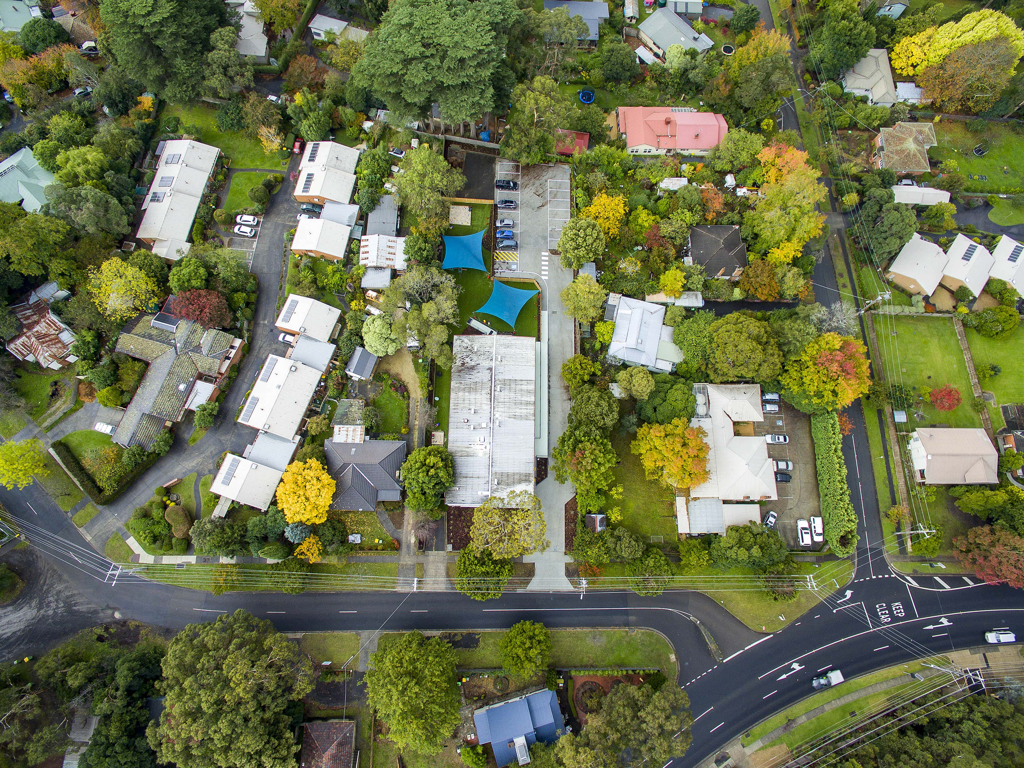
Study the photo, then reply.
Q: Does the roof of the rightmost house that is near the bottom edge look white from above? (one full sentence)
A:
No, the roof of the rightmost house that is near the bottom edge is actually blue.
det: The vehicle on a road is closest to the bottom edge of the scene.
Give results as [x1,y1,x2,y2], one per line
[815,671,843,688]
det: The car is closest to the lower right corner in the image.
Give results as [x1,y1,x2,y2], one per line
[987,631,1014,643]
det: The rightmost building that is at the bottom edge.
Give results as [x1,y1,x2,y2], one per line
[474,690,566,767]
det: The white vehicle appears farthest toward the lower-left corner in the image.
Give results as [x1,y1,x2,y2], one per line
[94,423,118,435]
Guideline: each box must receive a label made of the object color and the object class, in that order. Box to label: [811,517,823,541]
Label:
white vehicle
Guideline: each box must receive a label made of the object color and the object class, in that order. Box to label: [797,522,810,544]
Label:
white vehicle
